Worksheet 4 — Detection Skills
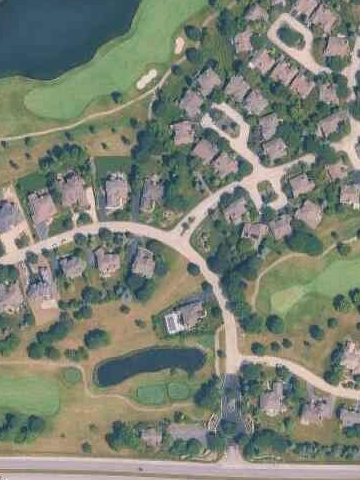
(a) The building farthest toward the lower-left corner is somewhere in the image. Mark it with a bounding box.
[140,425,164,446]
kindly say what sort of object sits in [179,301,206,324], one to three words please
house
